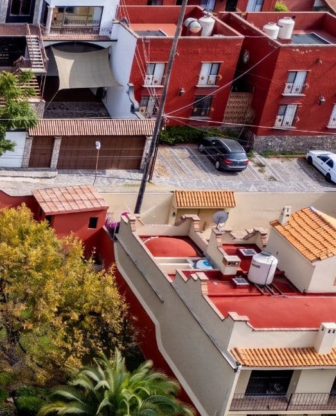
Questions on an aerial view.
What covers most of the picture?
buildings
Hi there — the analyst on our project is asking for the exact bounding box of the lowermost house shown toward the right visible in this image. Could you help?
[110,189,336,416]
